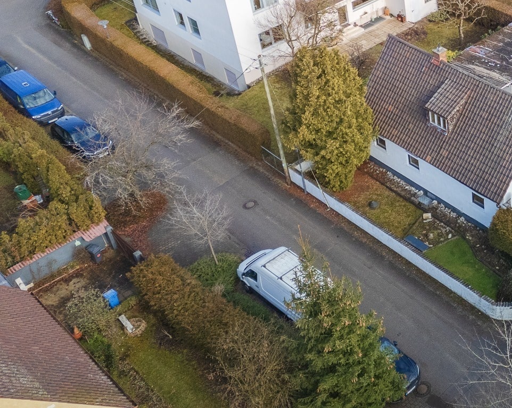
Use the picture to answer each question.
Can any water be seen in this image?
No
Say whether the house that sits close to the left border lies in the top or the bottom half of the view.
bottom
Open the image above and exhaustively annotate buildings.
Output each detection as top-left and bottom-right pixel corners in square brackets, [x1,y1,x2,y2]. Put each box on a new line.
[0,288,146,408]
[365,31,512,231]
[132,0,392,86]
